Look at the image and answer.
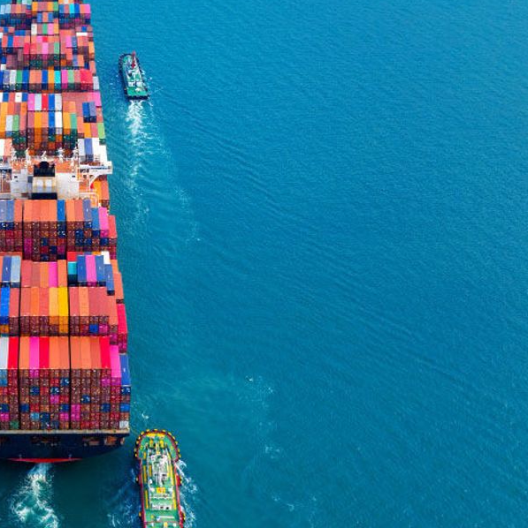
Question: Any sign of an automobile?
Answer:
No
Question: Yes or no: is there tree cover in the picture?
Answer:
No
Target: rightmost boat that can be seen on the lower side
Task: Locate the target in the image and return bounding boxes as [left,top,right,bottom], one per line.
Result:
[135,427,188,528]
